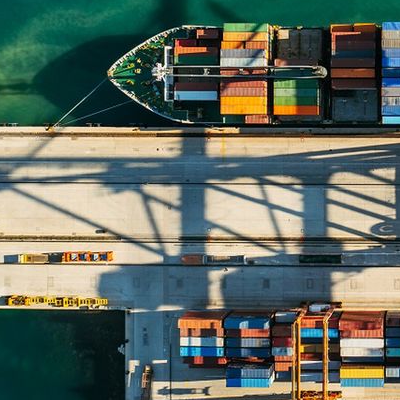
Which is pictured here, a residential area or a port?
port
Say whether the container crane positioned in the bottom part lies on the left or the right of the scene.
right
